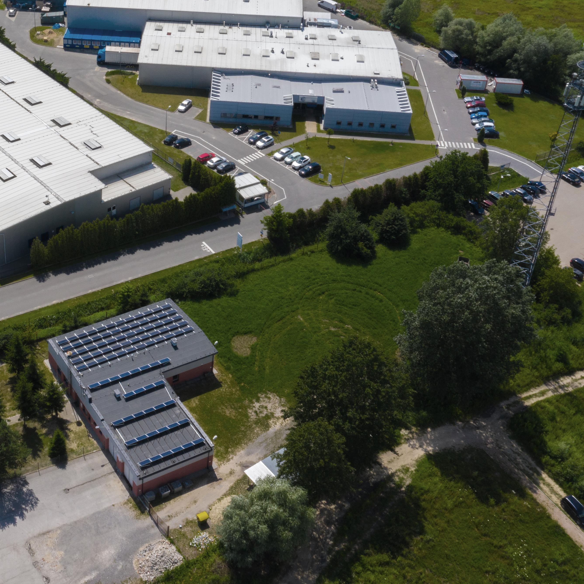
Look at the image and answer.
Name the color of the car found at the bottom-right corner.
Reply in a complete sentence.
The car found at the bottom-right corner looks black in the image.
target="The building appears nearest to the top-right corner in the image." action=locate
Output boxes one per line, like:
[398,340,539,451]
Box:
[492,75,524,93]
